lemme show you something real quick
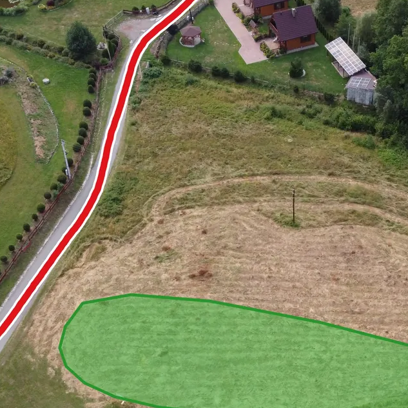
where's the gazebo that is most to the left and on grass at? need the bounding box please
[176,25,201,46]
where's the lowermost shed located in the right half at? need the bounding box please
[346,69,382,103]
